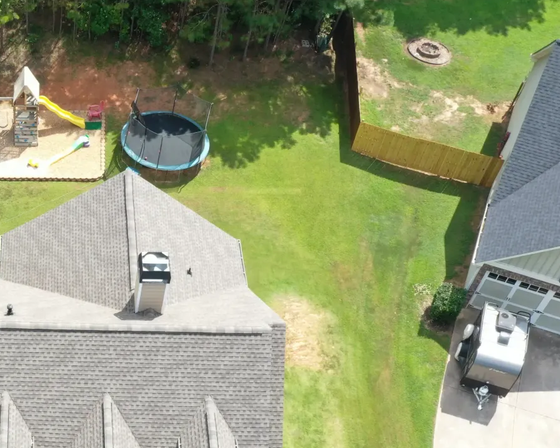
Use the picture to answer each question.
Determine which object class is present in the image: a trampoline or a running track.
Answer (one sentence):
I can see a trampoline in this picture.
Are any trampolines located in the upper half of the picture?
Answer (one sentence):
Yes, in the upper half of the picture there is a trampoline.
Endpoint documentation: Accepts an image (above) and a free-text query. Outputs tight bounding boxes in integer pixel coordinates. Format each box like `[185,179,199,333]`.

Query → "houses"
[462,34,560,334]
[0,169,288,448]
